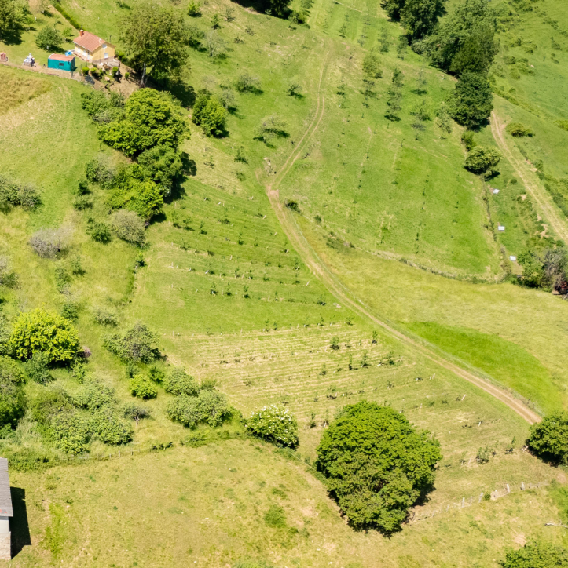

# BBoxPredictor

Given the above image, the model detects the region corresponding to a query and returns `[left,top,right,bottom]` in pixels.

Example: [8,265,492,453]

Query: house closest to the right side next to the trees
[76,29,119,62]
